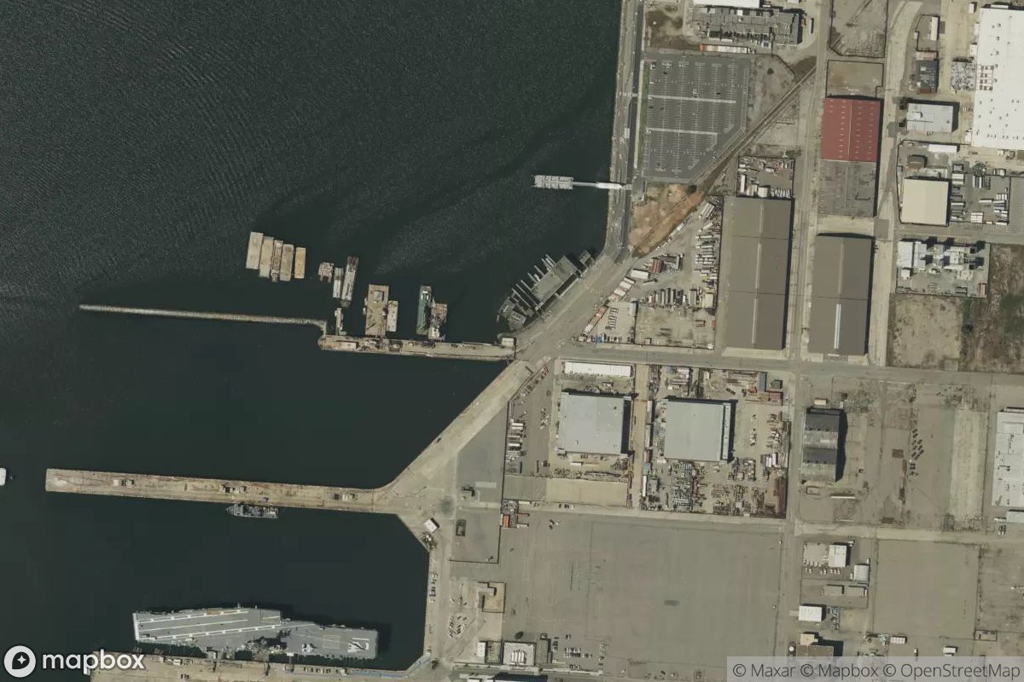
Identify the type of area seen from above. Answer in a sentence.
The area seen from above is a port.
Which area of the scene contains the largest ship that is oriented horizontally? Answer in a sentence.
The largest ship that is oriented horizontally is located in the bottom left region of the scene.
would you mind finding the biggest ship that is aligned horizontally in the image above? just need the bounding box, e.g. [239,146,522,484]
[133,606,377,662]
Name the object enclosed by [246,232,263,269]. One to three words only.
ship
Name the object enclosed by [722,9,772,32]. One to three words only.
building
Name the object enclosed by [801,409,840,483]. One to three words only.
hangar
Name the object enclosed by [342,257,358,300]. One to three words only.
ship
